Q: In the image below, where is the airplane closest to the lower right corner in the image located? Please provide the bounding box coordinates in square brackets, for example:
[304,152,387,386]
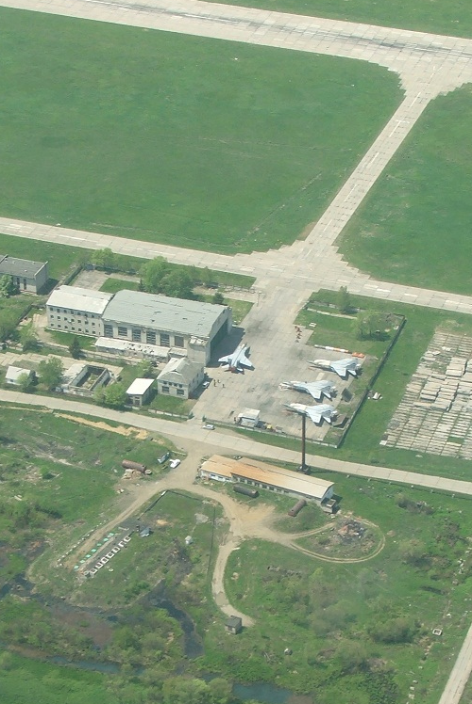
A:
[295,399,340,421]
